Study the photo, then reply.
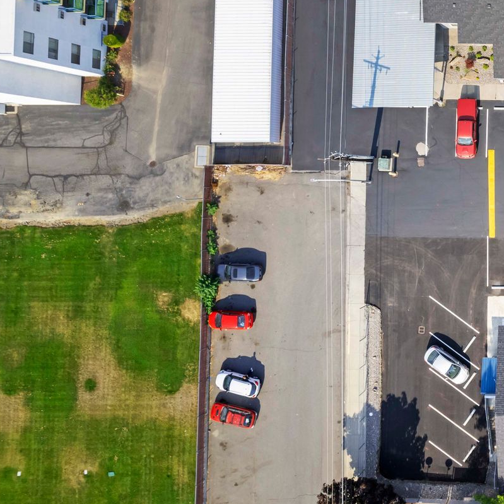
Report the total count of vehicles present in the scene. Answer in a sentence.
In total, 6 vehicles can be seen.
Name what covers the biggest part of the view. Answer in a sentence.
The scene is dominated by paved ground.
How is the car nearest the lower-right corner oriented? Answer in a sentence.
The car nearest the lower-right corner has been laid out at an angle relative to the frame.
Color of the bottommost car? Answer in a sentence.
From above, the bottommost car appears red.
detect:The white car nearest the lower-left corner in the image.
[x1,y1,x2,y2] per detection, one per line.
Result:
[215,369,264,399]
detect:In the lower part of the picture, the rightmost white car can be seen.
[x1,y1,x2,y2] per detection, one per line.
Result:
[424,344,471,385]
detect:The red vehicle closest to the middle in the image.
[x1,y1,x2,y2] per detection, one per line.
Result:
[208,309,258,334]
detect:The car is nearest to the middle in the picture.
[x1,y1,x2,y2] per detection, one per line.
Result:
[218,260,266,285]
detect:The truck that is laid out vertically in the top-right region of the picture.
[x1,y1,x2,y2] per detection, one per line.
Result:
[453,97,479,159]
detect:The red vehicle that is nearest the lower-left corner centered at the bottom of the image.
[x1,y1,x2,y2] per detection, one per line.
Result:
[211,400,260,429]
